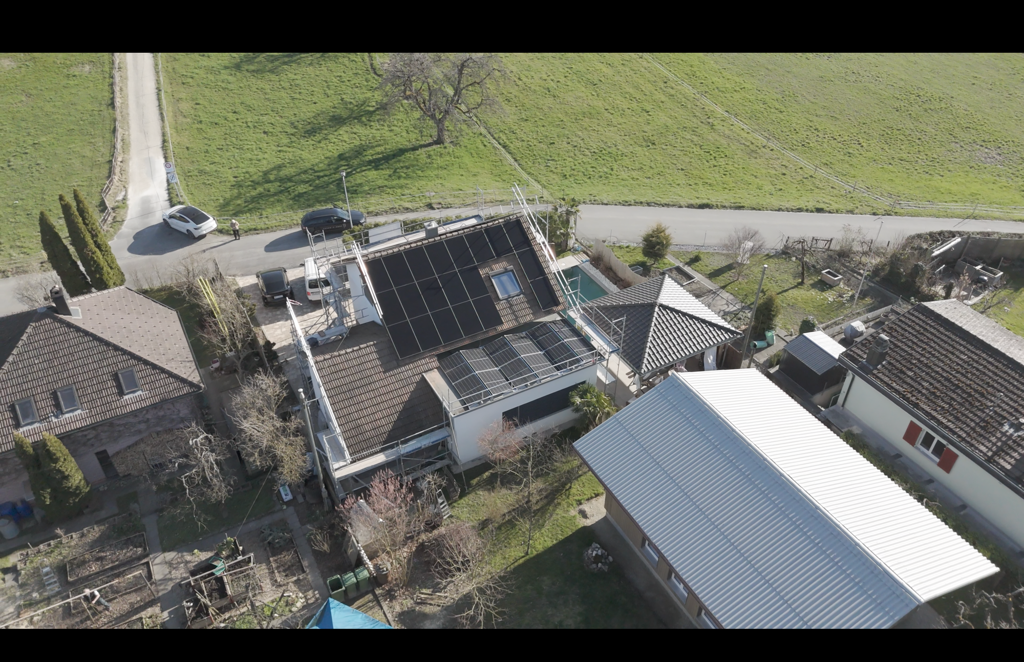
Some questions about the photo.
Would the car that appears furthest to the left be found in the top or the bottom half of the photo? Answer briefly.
top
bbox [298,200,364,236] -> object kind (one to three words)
car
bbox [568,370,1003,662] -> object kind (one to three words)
shed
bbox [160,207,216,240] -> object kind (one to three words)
car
